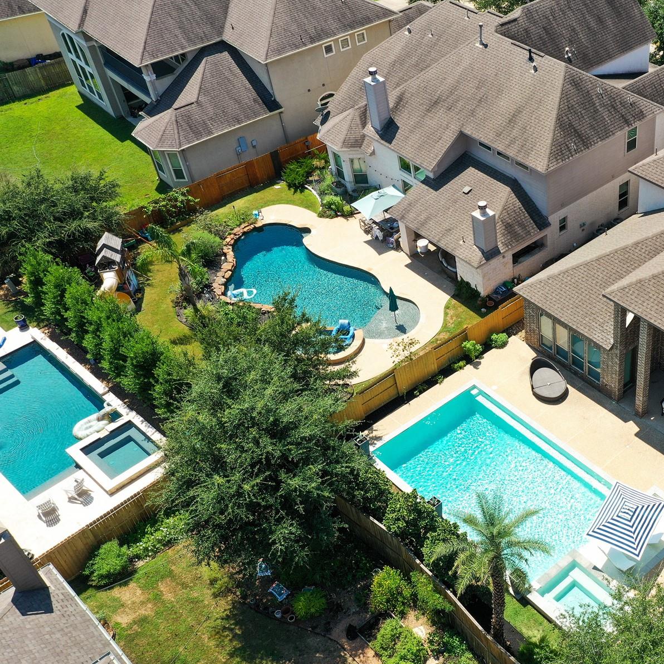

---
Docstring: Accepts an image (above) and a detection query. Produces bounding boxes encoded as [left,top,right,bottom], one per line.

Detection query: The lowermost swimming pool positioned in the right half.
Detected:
[362,378,664,645]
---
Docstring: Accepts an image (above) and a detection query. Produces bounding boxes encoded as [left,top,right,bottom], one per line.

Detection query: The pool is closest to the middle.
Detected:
[226,219,424,357]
